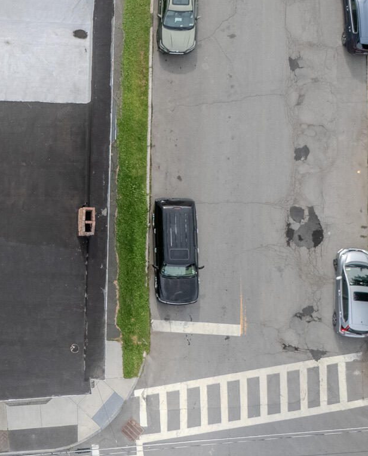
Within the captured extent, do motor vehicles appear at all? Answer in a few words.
Yes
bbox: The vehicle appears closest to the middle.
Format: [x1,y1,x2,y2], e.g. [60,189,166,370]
[151,195,204,308]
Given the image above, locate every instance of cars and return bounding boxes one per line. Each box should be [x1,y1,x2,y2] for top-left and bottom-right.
[155,0,202,55]
[330,244,368,341]
[339,0,368,56]
[151,195,204,308]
